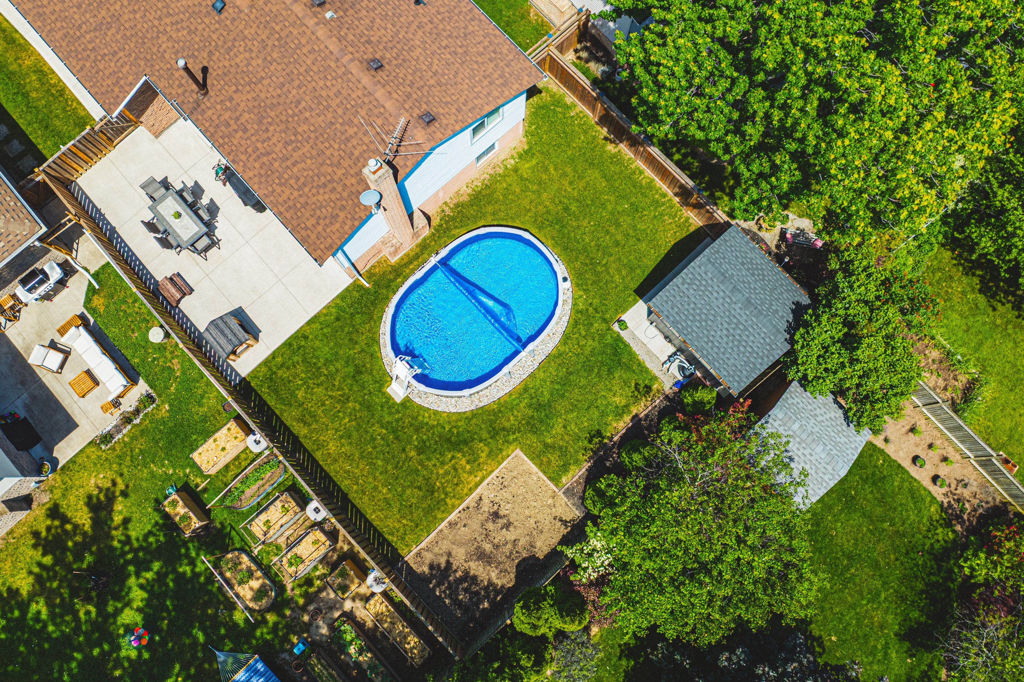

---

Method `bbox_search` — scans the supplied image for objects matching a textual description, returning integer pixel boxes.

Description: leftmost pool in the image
[384,225,570,397]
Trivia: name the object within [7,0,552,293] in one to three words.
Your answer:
house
